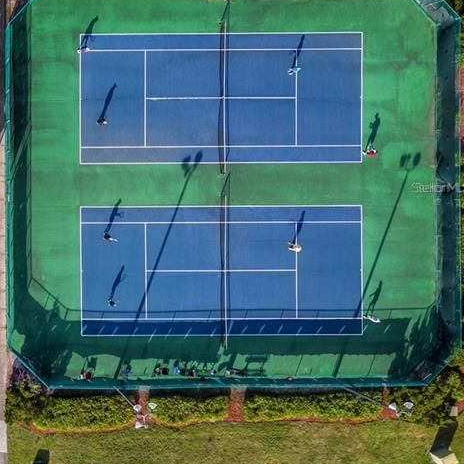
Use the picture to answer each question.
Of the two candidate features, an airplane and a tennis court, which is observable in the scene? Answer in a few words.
tennis court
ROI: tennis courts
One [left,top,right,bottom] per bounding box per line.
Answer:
[80,32,363,164]
[80,205,363,336]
